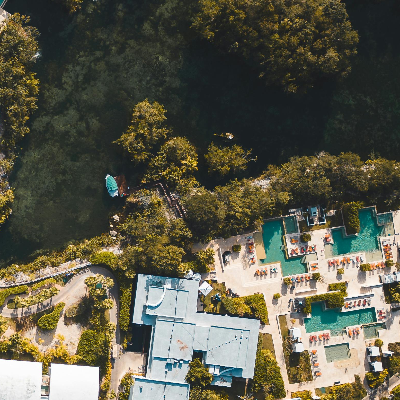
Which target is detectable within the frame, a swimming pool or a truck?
swimming pool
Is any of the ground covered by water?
Yes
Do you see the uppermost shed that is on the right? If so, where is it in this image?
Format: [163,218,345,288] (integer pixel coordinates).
[306,205,324,226]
